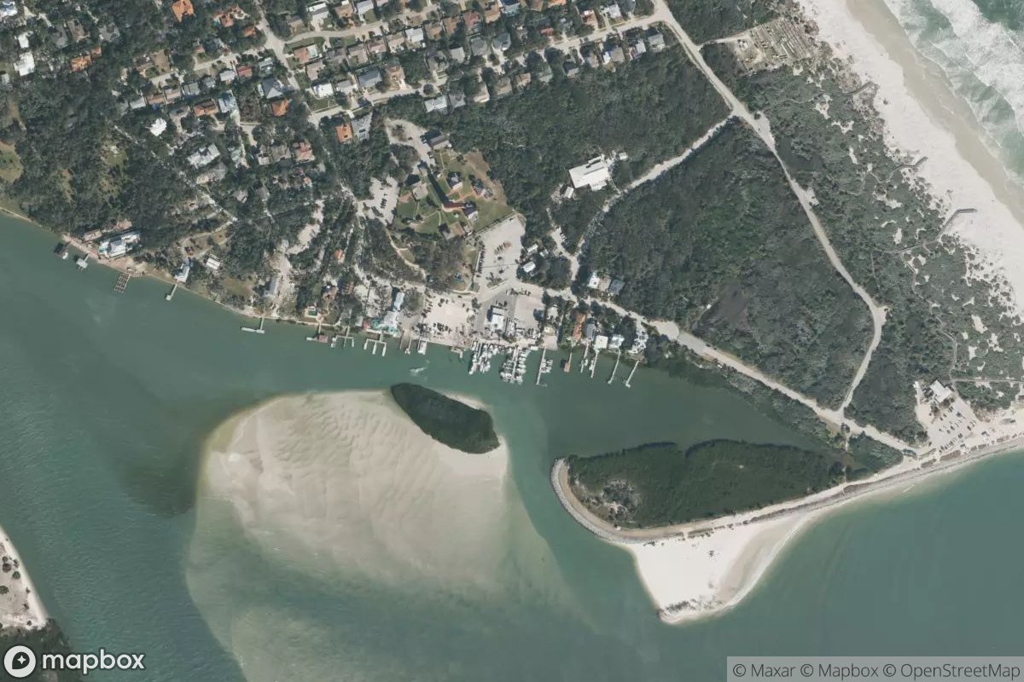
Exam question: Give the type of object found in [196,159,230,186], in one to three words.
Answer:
house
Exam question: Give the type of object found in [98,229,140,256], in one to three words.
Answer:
house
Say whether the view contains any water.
Yes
